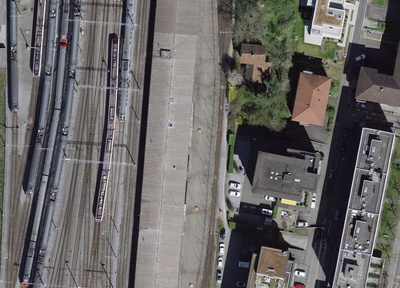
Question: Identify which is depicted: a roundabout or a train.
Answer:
train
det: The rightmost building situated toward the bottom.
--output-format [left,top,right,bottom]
[332,128,394,288]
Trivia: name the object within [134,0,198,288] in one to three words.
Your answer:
shed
